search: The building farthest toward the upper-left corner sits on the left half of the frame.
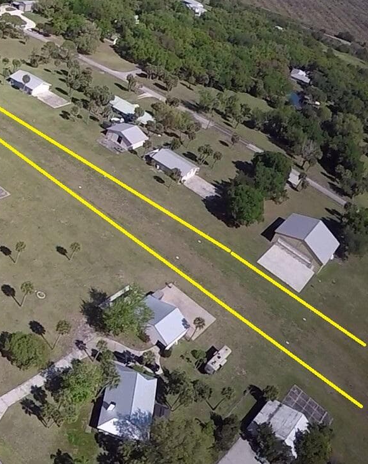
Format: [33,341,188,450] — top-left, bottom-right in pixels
[1,0,33,14]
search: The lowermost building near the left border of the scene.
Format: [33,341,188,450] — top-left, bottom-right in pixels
[12,72,51,97]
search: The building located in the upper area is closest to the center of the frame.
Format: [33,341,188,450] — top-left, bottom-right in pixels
[138,147,198,187]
